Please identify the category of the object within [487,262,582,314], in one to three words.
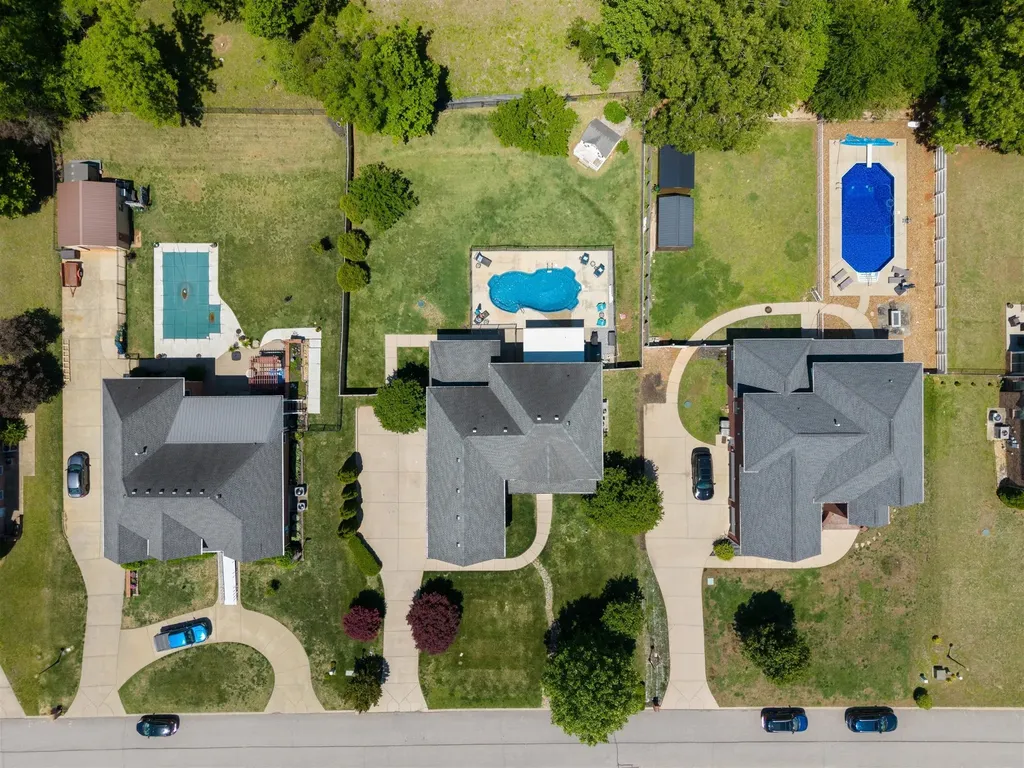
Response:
swimming pool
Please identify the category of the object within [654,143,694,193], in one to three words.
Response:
shed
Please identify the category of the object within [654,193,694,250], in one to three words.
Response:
shed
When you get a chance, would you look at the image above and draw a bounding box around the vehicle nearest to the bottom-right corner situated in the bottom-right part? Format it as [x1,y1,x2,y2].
[846,709,897,735]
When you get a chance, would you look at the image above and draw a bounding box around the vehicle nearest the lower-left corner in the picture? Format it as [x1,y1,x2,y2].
[136,716,178,740]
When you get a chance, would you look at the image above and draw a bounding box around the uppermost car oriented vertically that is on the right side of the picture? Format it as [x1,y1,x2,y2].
[691,448,716,499]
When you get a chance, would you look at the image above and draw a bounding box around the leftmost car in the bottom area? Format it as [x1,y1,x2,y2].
[64,451,90,498]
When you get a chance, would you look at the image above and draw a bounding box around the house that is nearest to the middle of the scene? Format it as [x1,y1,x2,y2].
[426,339,604,569]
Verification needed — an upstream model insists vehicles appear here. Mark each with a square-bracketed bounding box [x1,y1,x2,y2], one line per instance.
[64,451,90,498]
[136,716,178,740]
[117,178,131,199]
[846,709,897,735]
[691,448,716,499]
[762,709,807,734]
[151,619,212,653]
